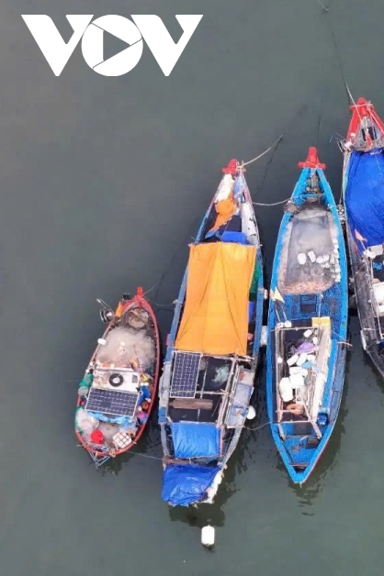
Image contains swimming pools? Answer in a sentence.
No, I find no swimming pool anywhere in the image.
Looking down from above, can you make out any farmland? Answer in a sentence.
No, farmland can't be seen anywhere here.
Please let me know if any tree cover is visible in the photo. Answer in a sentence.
No, tree cover can't be seen anywhere here.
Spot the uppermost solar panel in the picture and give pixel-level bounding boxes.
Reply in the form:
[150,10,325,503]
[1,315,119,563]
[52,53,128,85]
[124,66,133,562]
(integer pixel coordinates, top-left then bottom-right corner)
[166,351,204,402]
